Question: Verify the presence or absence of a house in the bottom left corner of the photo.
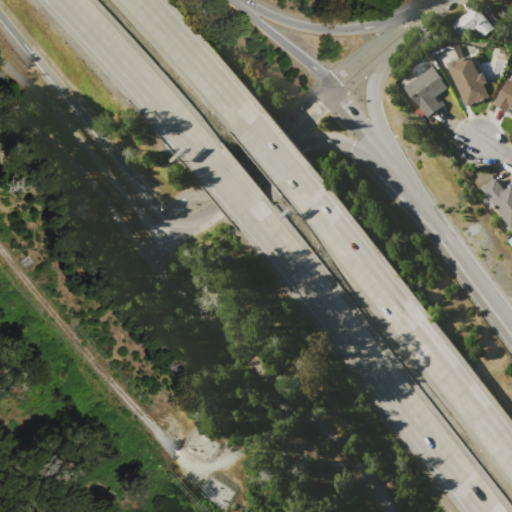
No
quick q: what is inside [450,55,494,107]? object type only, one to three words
house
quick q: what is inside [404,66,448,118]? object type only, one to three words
house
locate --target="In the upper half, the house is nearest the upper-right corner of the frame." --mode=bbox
[458,9,492,36]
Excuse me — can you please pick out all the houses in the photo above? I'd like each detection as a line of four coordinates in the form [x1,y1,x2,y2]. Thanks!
[458,9,492,36]
[404,66,448,118]
[496,79,512,115]
[482,178,512,240]
[450,55,494,107]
